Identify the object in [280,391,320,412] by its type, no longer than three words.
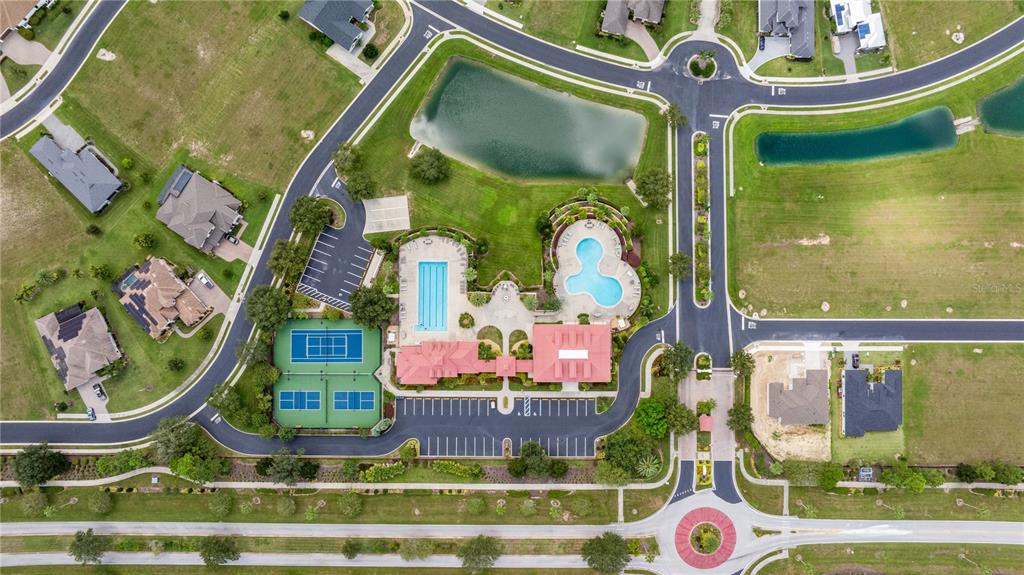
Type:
sports court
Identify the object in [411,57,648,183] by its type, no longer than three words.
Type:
pond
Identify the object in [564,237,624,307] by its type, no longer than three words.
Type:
swimming pool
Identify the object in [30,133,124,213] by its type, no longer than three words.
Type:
house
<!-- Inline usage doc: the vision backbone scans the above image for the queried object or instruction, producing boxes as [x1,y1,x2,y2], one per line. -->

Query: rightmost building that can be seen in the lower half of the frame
[841,369,903,436]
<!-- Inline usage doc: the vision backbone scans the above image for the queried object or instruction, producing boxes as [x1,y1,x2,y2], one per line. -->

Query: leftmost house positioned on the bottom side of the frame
[35,306,123,391]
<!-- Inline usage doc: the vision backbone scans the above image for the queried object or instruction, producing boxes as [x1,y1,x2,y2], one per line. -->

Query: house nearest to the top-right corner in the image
[825,0,886,50]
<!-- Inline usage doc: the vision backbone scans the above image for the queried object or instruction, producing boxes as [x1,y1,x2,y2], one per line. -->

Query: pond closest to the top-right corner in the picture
[975,75,1024,138]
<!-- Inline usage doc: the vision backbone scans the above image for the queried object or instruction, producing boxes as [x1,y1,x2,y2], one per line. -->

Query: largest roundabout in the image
[675,507,736,569]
